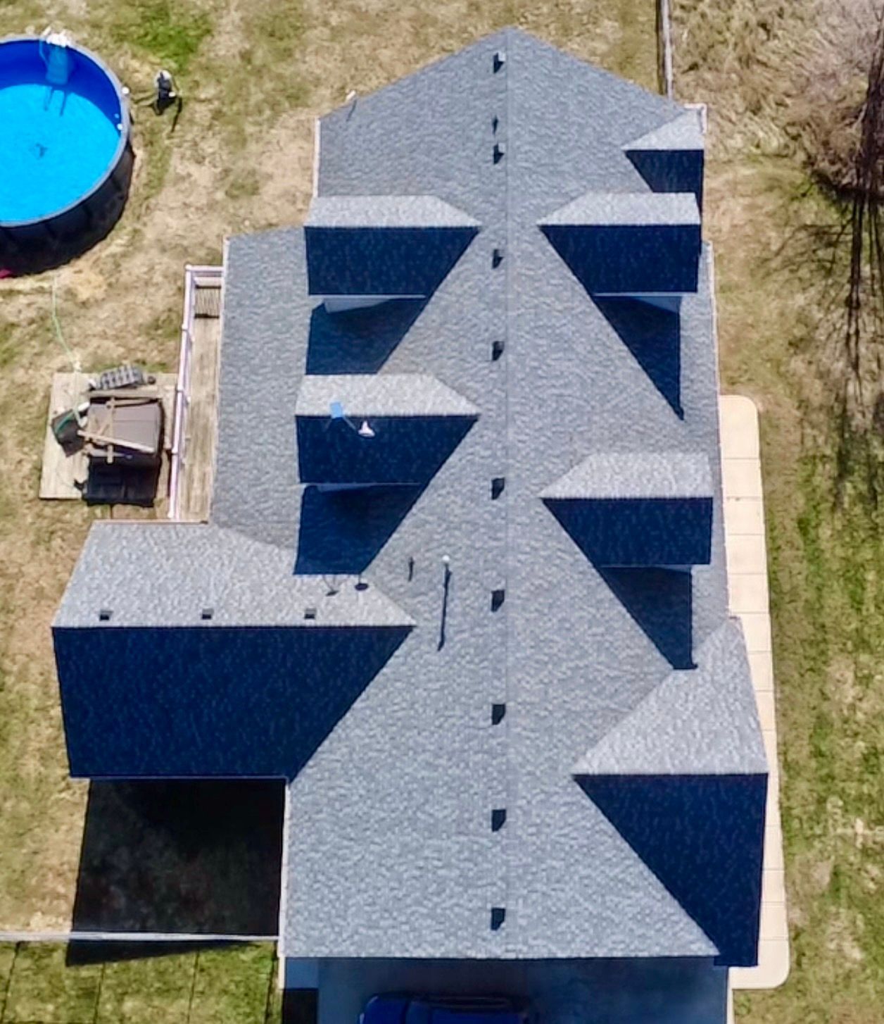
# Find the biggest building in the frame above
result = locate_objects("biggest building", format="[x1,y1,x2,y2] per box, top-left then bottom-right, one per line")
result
[54,26,768,968]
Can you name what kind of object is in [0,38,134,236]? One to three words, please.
swimming pool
